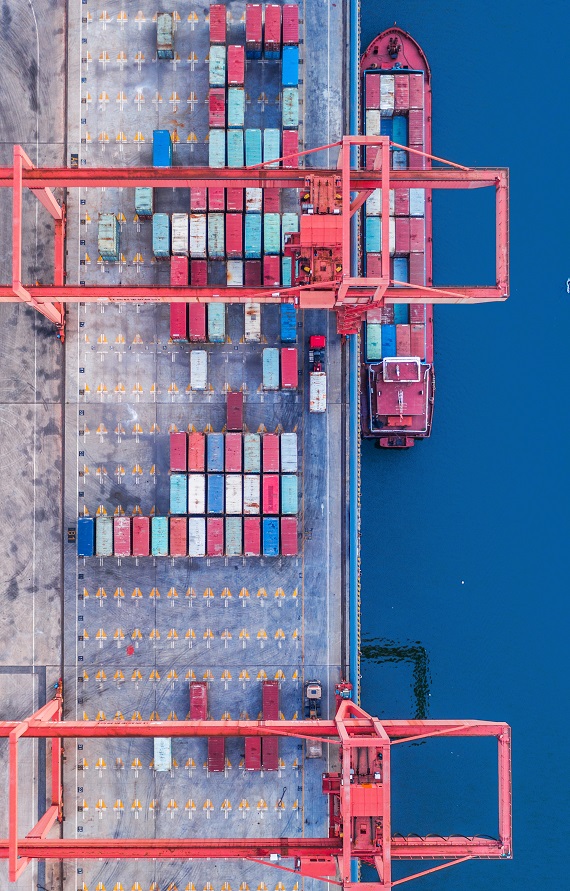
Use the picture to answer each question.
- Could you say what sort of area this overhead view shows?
port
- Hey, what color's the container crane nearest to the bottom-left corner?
red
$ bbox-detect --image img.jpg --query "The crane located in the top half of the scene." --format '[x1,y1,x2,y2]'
[0,141,510,350]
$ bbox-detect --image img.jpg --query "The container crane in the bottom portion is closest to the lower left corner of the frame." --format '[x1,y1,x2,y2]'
[0,669,513,889]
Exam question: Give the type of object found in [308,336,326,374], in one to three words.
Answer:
vehicle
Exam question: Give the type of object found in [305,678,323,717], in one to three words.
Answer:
vehicle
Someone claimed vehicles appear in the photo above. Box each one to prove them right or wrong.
[308,336,326,374]
[305,678,323,717]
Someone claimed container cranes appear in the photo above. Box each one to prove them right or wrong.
[0,141,510,350]
[0,669,513,889]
